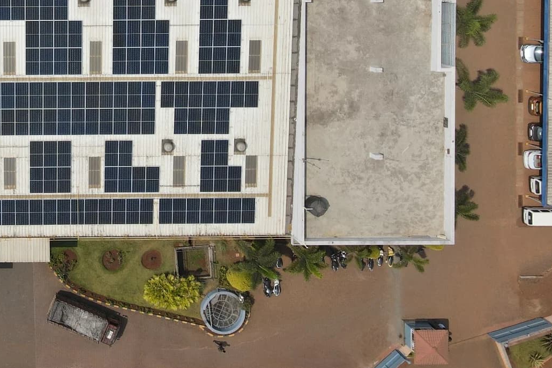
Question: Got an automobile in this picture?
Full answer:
Yes, there's an automobile down there.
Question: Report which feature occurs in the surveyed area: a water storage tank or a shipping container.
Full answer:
It is a water storage tank that can be seen here.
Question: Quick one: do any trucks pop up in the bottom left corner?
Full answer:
Yes, a truck appears in the bottom left corner.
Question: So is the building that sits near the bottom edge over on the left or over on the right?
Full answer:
The building that sits near the bottom edge is on the right side of the image.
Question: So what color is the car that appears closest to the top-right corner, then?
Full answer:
The color of the car that appears closest to the top-right corner is white.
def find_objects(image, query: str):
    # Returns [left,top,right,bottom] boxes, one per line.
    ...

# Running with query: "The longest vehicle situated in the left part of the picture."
[48,292,124,348]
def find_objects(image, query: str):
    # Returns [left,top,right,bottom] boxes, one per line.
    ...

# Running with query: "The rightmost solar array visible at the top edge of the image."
[197,0,242,73]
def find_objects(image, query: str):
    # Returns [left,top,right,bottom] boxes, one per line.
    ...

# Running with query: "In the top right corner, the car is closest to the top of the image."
[519,42,543,65]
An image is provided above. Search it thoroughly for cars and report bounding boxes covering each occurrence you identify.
[526,95,542,115]
[519,42,543,65]
[527,176,541,196]
[522,149,541,170]
[527,121,542,142]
